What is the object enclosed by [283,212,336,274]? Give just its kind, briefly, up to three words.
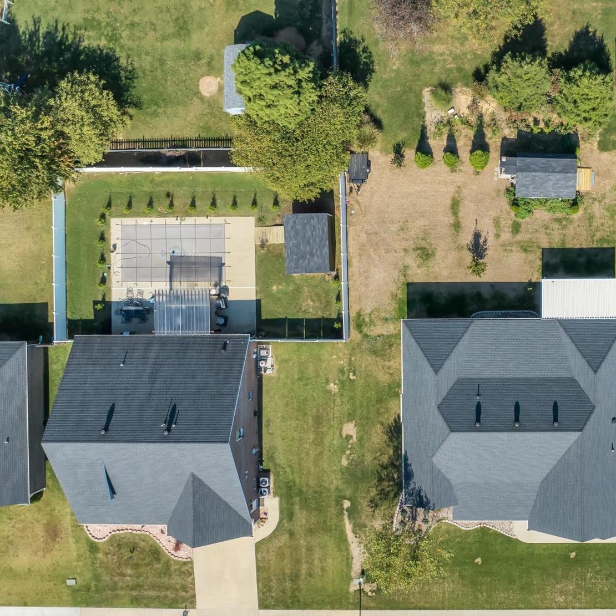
shed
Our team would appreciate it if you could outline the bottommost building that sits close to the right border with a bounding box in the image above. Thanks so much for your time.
[401,317,616,543]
